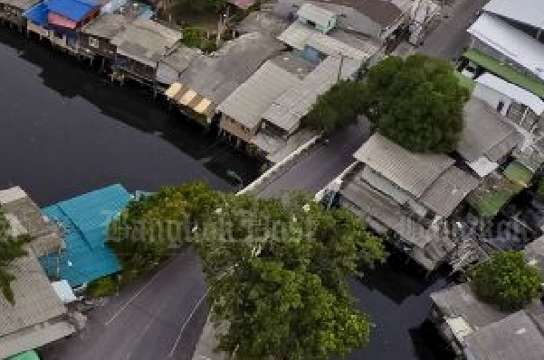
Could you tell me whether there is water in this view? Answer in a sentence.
Yes, some water is visible.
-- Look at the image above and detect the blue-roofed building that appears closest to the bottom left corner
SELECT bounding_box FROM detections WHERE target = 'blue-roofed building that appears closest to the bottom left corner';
[42,190,127,298]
